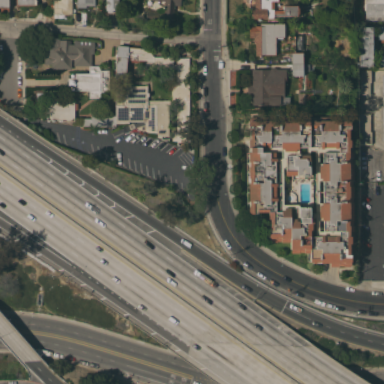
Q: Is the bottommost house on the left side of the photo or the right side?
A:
right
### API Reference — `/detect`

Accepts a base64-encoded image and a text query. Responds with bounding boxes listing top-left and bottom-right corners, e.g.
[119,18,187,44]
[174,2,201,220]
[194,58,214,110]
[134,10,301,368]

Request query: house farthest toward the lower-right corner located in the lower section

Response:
[312,236,354,266]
